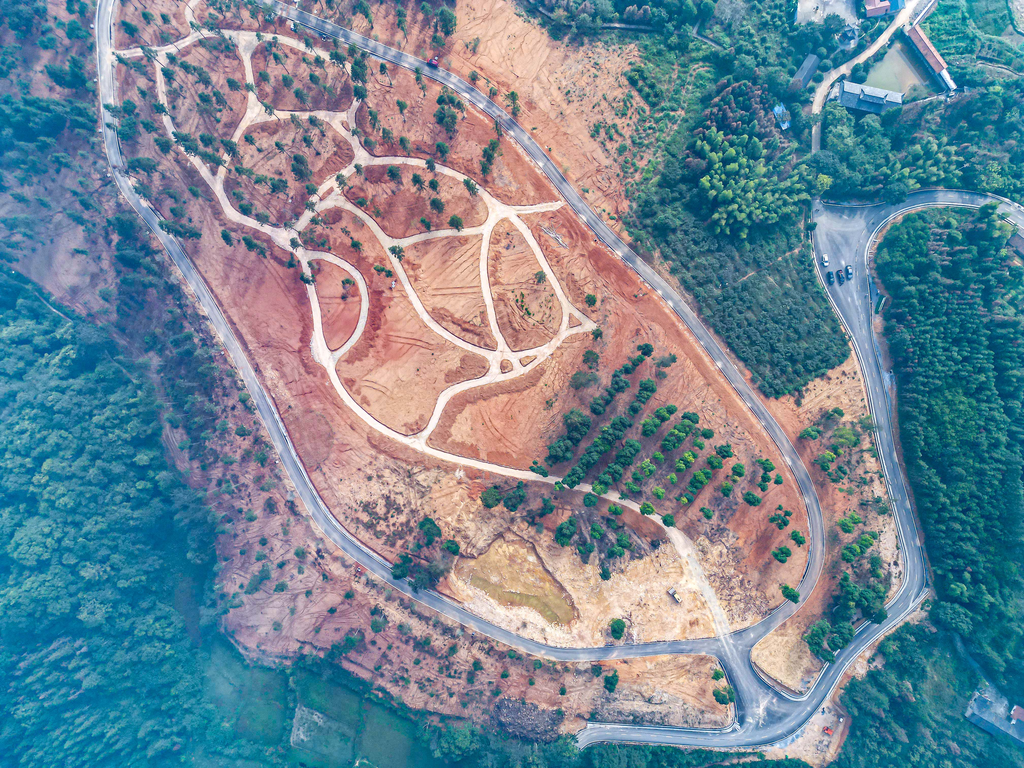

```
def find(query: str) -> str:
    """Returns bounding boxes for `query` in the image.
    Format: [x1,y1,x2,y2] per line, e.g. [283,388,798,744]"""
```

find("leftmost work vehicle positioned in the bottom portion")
[669,588,683,604]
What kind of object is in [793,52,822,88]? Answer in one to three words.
shed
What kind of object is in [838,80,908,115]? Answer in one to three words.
building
